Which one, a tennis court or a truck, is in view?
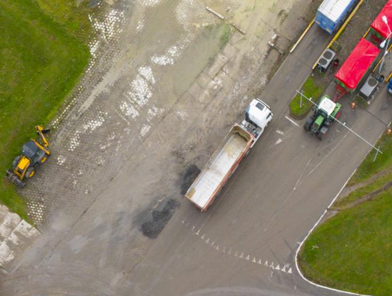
truck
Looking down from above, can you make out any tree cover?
No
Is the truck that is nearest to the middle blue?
No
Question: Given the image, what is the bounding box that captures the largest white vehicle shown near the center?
[185,101,275,214]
